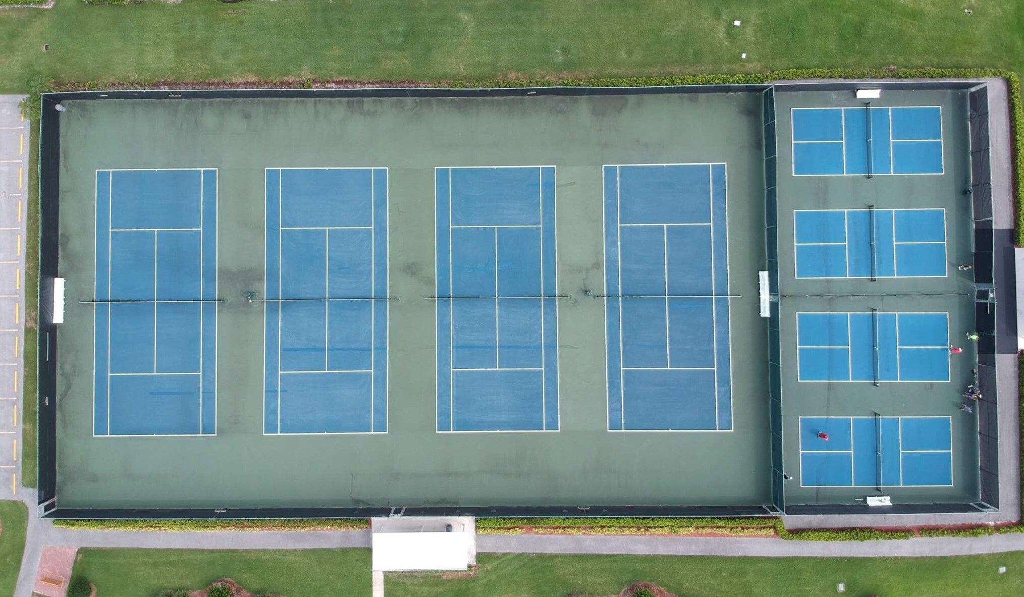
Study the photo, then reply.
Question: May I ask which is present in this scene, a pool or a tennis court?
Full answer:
There is a tennis court in the scene.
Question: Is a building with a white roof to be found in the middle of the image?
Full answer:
No, no building with a white roof appears in the middle of the image.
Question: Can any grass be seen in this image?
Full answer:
Yes, the picture does contain grass.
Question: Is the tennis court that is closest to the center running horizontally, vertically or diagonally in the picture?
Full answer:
In this picture, the tennis court that is closest to the center is oriented vertically.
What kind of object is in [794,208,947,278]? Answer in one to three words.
sports court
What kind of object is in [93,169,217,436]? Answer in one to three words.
tennis court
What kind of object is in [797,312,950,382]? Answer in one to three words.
sports court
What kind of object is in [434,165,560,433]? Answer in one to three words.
tennis court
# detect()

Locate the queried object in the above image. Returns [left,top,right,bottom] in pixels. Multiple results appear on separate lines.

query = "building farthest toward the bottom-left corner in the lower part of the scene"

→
[373,524,468,572]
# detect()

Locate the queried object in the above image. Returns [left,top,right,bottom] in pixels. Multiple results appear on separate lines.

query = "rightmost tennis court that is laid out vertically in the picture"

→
[603,163,732,432]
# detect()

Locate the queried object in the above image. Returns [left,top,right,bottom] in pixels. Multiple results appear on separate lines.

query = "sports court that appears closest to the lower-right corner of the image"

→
[799,416,953,487]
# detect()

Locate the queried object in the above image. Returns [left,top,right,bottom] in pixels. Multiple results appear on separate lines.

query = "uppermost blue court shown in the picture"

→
[792,106,943,176]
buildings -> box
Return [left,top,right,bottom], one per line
[1003,240,1024,373]
[373,524,468,572]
